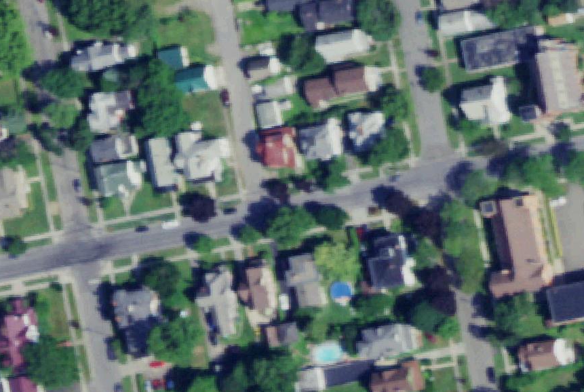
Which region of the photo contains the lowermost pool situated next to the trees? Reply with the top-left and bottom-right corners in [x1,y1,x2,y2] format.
[313,339,343,367]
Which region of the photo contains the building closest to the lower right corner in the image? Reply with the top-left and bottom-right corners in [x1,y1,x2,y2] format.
[515,337,574,372]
